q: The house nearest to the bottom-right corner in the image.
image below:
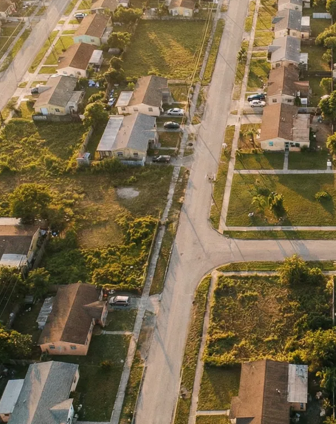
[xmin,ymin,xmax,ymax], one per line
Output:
[230,360,310,424]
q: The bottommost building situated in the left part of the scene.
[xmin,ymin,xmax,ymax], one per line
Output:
[0,361,82,424]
